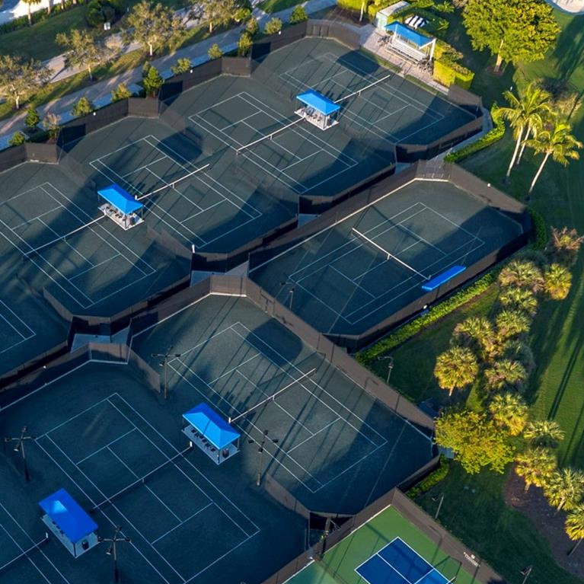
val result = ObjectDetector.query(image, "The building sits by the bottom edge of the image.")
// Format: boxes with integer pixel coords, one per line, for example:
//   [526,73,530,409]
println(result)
[37,486,101,558]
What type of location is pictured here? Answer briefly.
sports ground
